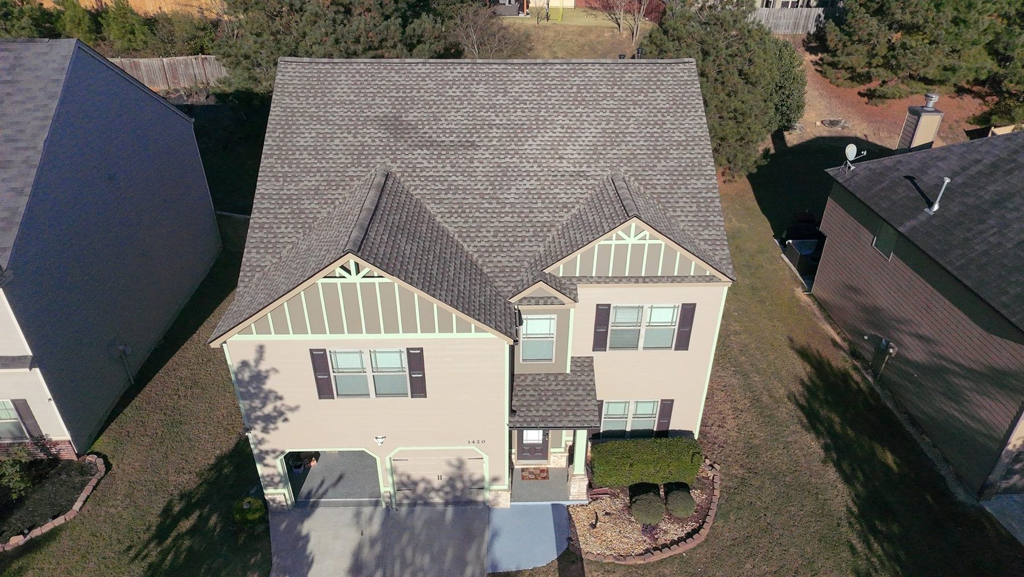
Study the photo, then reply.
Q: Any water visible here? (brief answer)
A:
No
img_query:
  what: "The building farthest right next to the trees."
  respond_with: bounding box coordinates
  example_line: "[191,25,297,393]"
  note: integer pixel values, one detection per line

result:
[813,94,1024,502]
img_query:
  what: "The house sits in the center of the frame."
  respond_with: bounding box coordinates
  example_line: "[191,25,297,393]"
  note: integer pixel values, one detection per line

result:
[207,48,737,510]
